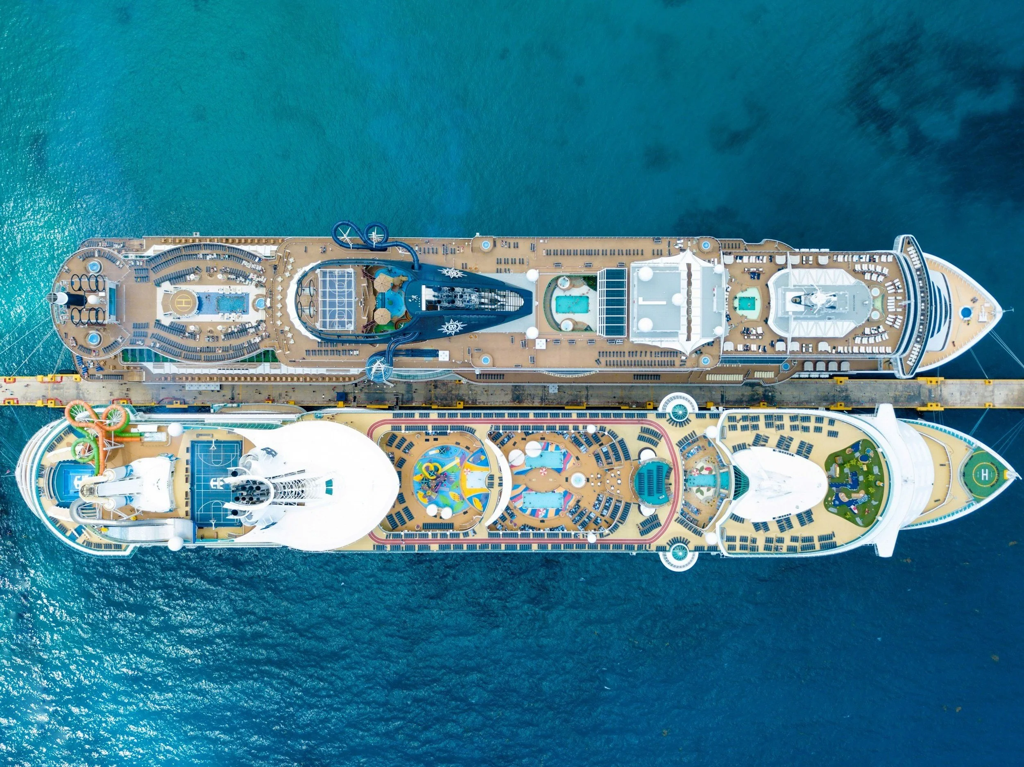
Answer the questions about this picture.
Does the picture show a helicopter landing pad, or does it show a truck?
helicopter landing pad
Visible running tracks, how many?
1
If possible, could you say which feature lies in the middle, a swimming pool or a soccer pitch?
swimming pool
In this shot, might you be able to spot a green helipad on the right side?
Yes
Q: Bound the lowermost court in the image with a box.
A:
[190,440,245,530]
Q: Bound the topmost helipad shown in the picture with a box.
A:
[162,286,200,320]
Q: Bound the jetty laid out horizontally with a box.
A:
[0,374,1024,411]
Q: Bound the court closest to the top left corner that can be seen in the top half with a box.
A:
[319,269,354,330]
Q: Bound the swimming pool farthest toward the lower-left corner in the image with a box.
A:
[44,444,103,523]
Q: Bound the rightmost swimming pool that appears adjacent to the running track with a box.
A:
[688,461,729,500]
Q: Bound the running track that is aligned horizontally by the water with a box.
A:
[368,419,680,545]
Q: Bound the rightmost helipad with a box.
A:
[956,445,1004,503]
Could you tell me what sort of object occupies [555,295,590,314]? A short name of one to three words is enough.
swimming pool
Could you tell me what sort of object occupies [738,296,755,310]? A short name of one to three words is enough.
swimming pool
